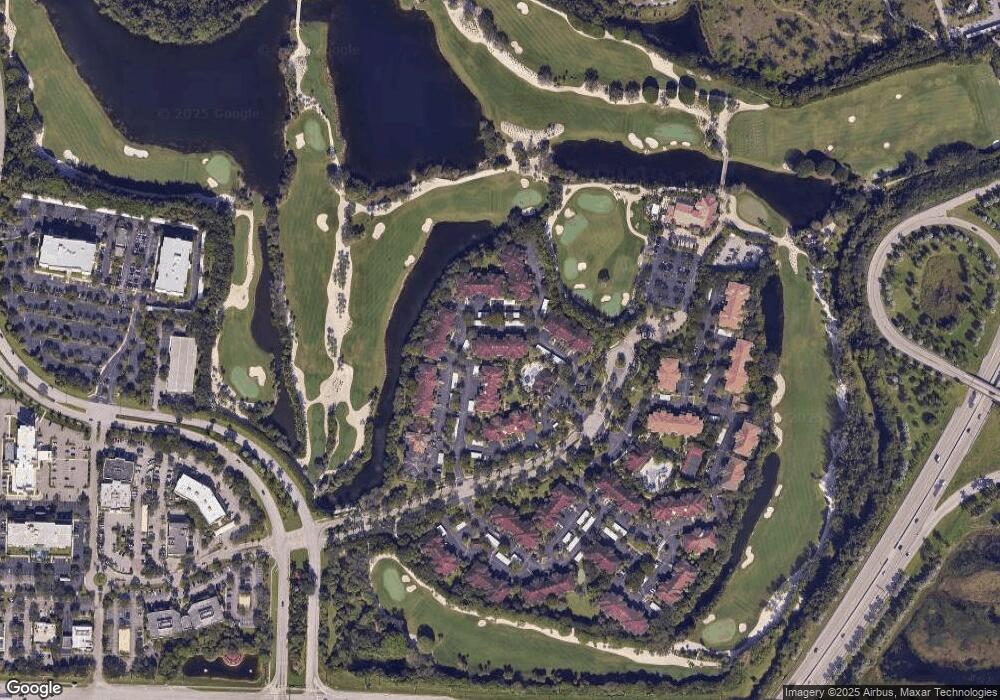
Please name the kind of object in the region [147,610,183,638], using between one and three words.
building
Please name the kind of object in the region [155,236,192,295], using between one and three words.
building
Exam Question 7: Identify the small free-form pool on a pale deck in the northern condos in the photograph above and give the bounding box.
[521,360,545,391]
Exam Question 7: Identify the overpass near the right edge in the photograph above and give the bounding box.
[892,343,1000,404]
